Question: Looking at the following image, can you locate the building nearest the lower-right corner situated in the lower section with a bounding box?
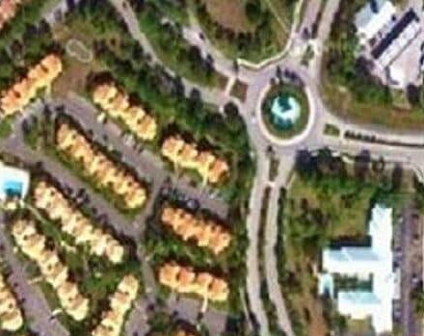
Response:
[319,205,401,333]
